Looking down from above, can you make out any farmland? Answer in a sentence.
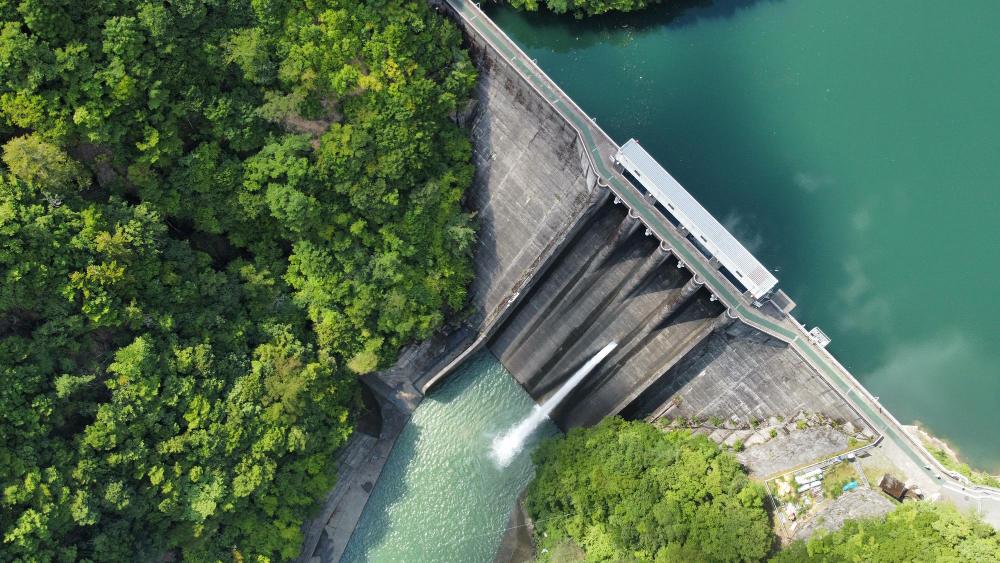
No, the picture contains no farmland.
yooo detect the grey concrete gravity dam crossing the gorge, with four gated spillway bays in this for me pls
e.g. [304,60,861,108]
[443,0,1000,492]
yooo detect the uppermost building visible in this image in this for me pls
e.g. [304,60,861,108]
[614,137,781,297]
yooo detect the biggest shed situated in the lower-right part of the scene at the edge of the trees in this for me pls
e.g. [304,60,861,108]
[875,473,909,503]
